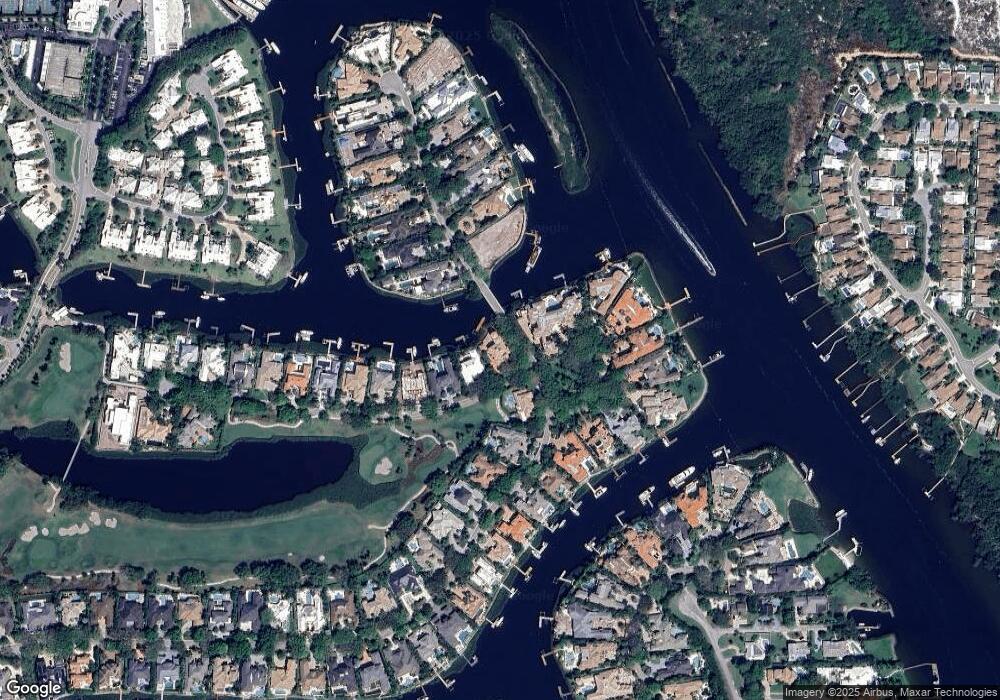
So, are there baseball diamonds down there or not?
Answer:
No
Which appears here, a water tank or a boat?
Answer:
boat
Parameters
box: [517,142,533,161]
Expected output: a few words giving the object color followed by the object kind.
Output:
white boat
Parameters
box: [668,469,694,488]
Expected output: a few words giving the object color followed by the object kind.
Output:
white boat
